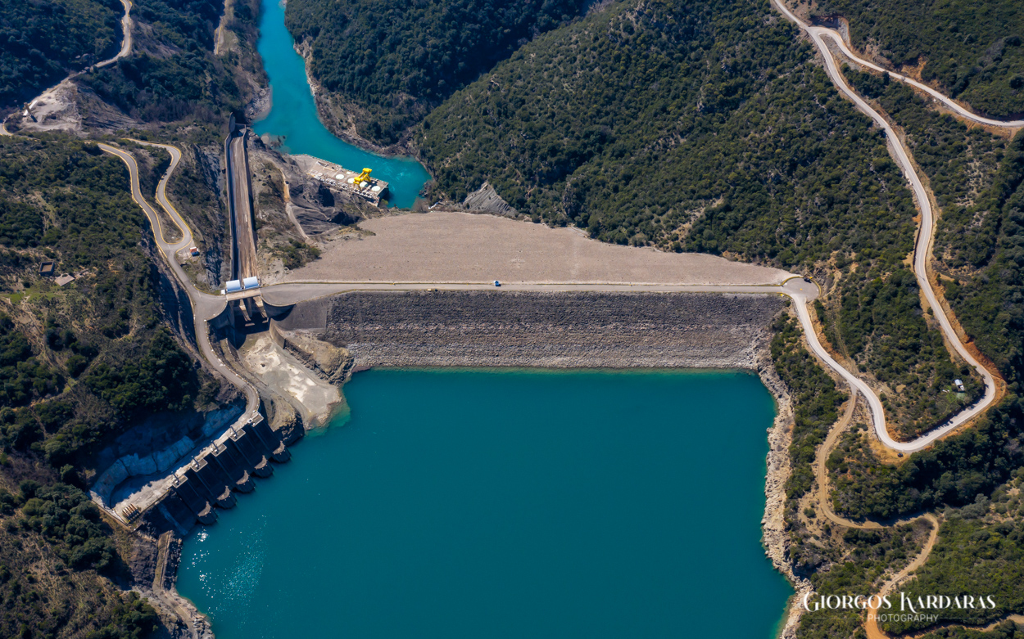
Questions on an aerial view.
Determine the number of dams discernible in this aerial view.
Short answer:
1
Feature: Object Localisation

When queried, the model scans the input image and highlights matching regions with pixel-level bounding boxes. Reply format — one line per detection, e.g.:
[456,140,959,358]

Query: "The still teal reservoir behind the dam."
[178,368,790,639]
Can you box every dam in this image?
[261,212,789,372]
